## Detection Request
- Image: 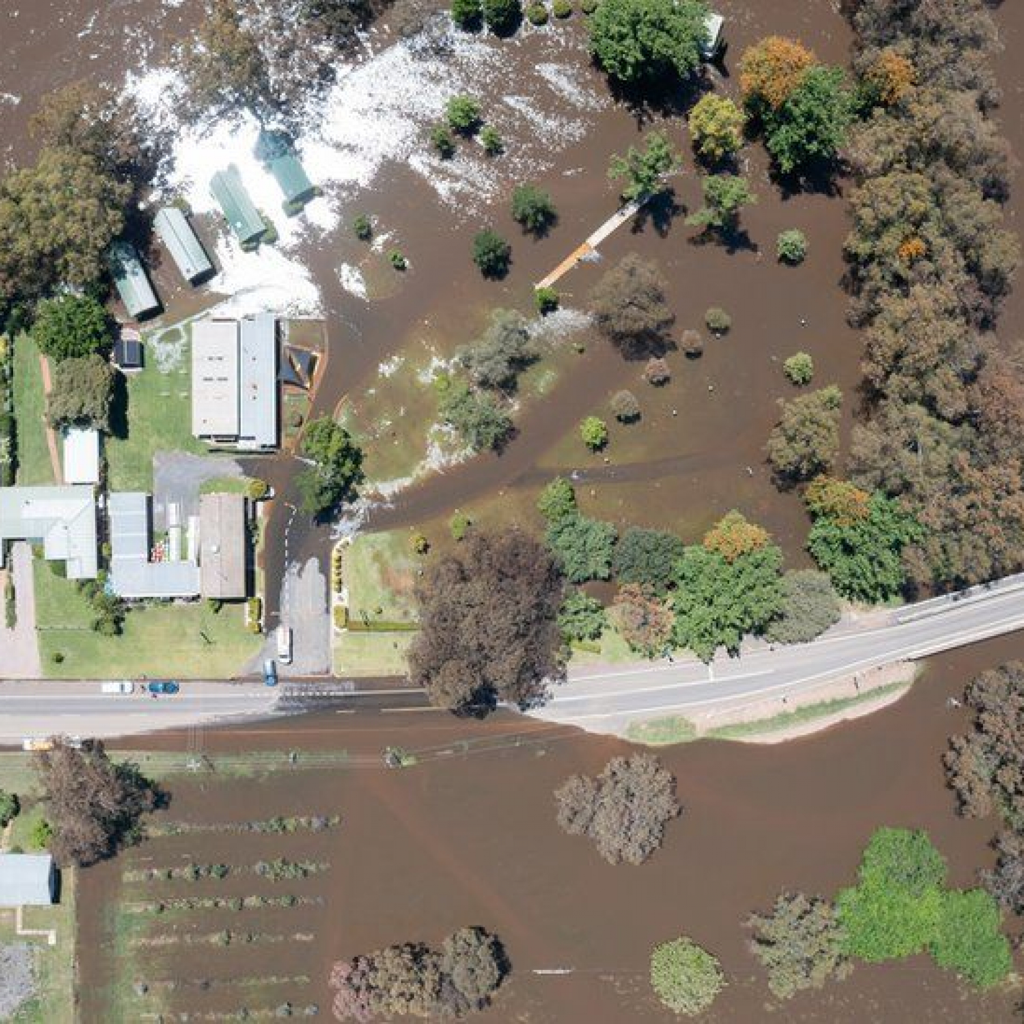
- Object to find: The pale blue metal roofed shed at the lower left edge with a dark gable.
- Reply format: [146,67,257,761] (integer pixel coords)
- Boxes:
[0,851,57,904]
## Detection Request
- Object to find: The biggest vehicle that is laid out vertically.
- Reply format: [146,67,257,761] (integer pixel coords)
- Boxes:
[277,626,291,662]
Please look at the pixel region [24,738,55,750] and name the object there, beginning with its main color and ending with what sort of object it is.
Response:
white vehicle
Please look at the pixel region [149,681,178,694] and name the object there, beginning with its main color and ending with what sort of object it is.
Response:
blue vehicle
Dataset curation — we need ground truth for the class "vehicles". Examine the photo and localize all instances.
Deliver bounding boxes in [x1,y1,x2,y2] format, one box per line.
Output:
[263,660,275,685]
[24,738,55,750]
[277,626,291,662]
[149,681,178,694]
[100,681,134,693]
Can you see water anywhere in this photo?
Yes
